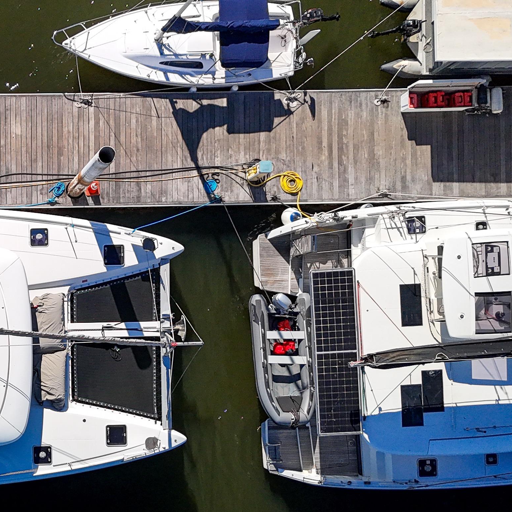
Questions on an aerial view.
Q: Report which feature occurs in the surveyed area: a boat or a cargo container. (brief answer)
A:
boat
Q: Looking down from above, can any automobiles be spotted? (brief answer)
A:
No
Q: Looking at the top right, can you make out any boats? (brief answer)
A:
Yes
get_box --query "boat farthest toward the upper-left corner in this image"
[51,0,340,86]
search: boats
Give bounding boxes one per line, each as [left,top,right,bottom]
[250,291,316,427]
[369,0,512,81]
[250,201,512,489]
[0,210,206,483]
[51,0,340,86]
